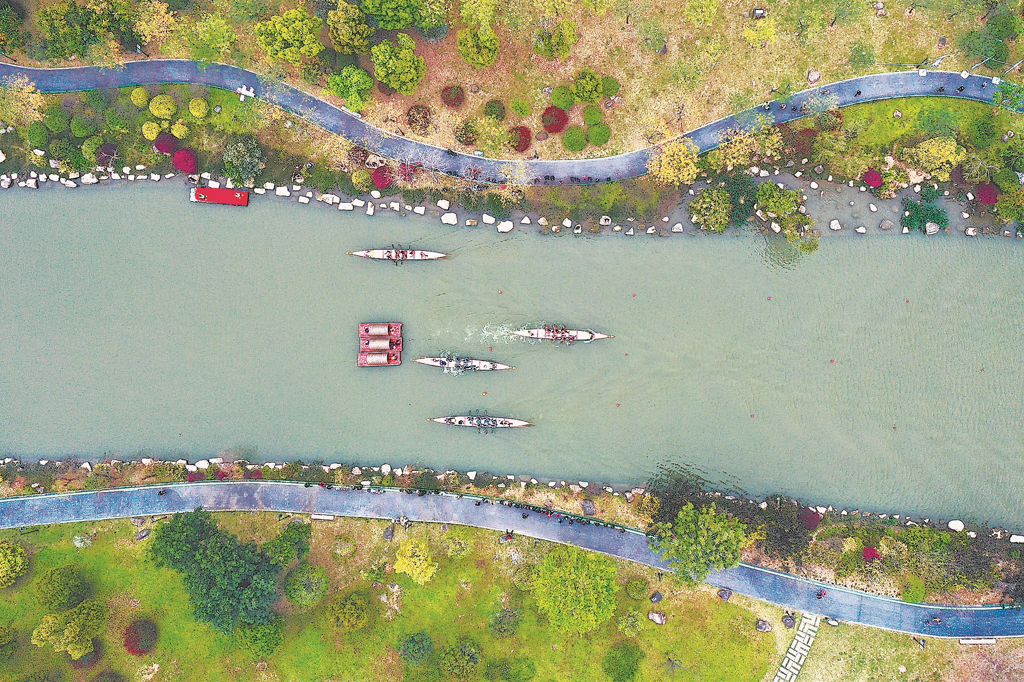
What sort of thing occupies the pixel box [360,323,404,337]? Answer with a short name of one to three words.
boat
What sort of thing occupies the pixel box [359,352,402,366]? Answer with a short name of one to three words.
boat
